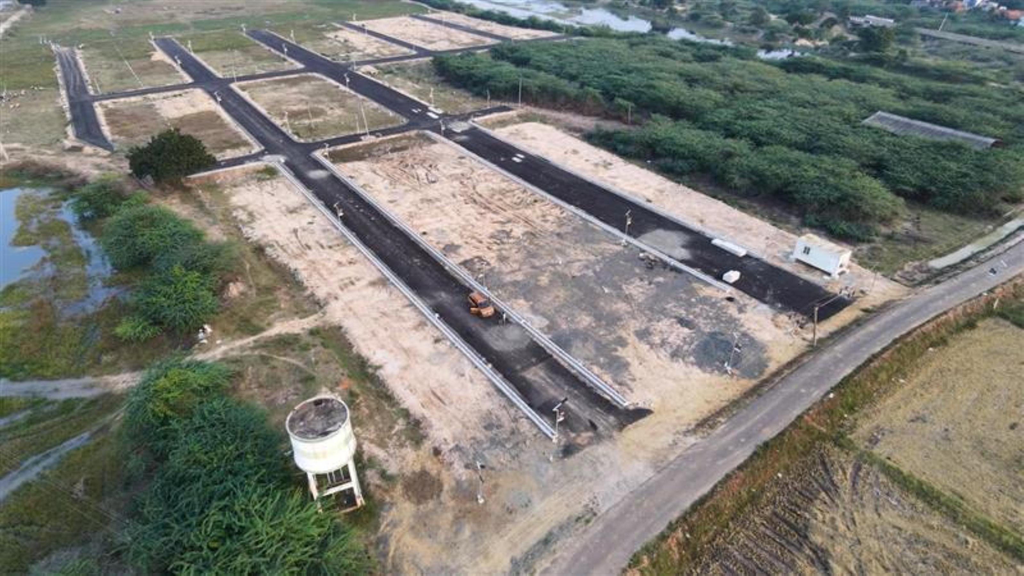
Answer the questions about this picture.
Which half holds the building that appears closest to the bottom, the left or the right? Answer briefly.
right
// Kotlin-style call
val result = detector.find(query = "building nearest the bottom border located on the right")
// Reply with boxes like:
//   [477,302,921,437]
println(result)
[795,232,855,279]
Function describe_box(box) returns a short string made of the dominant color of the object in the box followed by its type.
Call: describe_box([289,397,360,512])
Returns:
white water tower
